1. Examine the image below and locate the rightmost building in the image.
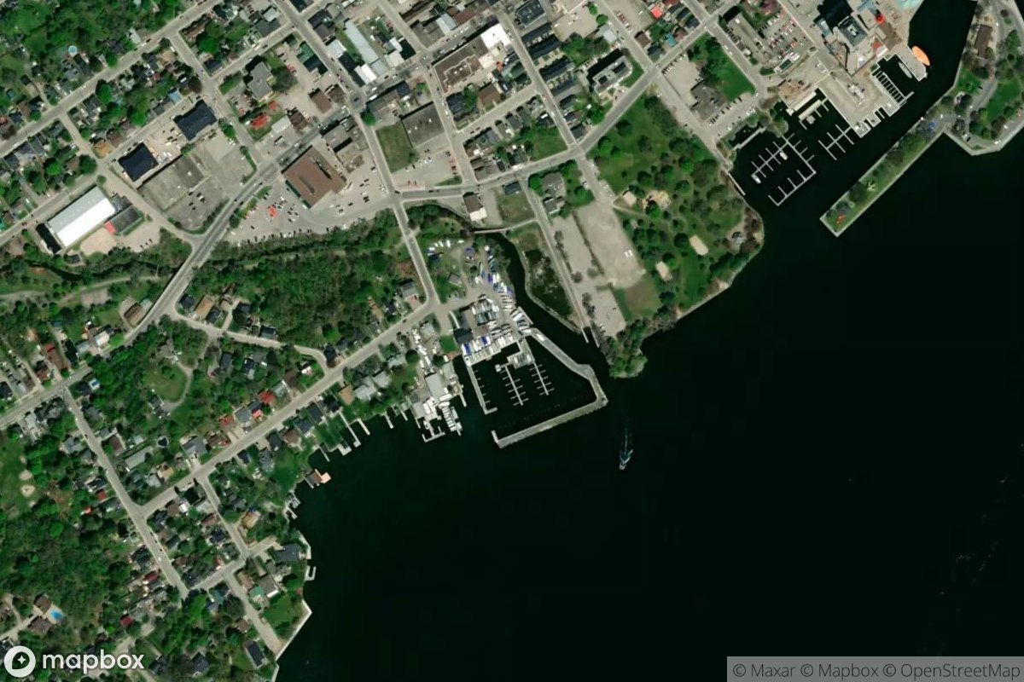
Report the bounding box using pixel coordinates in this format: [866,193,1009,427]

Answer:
[976,24,991,56]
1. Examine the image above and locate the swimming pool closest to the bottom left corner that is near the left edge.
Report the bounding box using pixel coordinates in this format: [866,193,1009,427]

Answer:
[47,606,66,624]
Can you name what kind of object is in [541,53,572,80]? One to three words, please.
house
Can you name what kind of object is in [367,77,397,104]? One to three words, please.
building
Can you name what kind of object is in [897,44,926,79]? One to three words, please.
pier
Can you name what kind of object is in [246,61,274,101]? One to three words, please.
building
